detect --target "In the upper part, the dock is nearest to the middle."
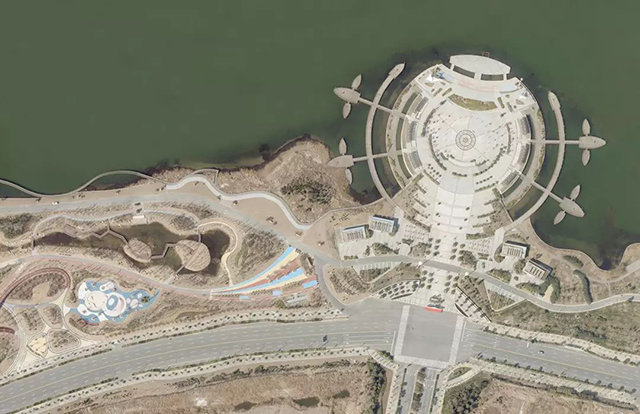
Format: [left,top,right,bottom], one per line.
[328,138,388,184]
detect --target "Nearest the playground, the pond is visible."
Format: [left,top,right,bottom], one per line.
[34,221,230,275]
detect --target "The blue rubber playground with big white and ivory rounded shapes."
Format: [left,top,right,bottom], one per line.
[69,281,160,323]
